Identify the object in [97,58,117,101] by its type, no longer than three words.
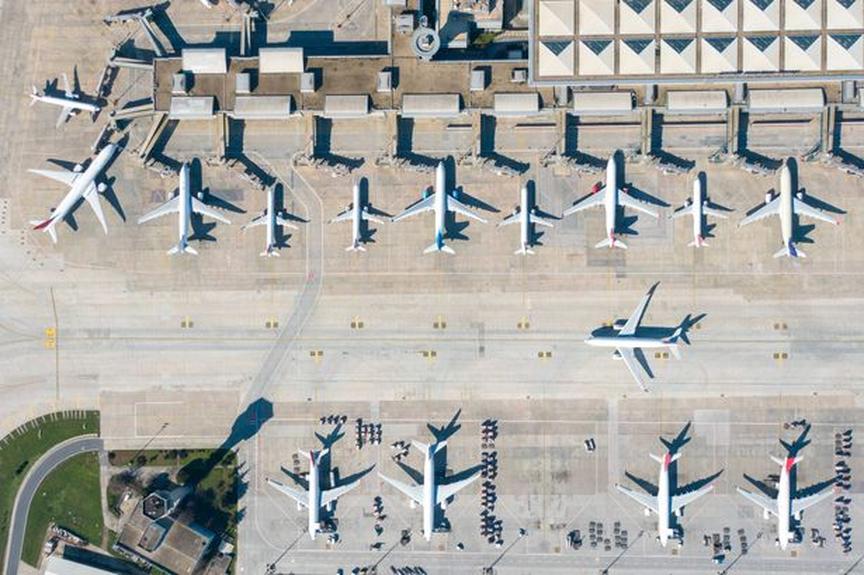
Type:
jet bridge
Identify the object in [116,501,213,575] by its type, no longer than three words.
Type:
building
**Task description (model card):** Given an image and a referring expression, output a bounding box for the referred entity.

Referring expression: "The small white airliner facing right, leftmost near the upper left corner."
[27,72,100,127]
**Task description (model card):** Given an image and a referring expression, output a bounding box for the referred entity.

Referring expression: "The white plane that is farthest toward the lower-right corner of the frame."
[740,456,840,549]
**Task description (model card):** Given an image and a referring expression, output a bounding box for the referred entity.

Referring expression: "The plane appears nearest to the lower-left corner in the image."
[265,449,361,539]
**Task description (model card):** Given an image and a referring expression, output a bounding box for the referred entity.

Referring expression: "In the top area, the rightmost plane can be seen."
[738,163,843,258]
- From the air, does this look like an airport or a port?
airport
